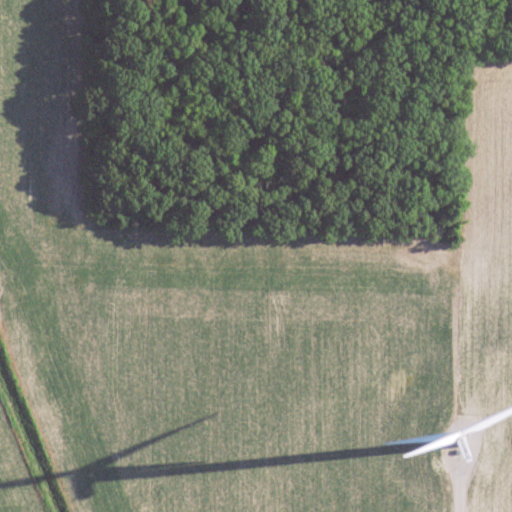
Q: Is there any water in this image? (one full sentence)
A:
No, the picture contains no water.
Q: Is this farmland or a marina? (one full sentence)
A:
This looks like farmland.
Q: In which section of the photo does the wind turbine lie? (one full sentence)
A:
The wind turbine appears toward the bottom right of the photo.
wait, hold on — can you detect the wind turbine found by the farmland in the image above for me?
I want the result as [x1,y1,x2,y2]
[383,410,512,462]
